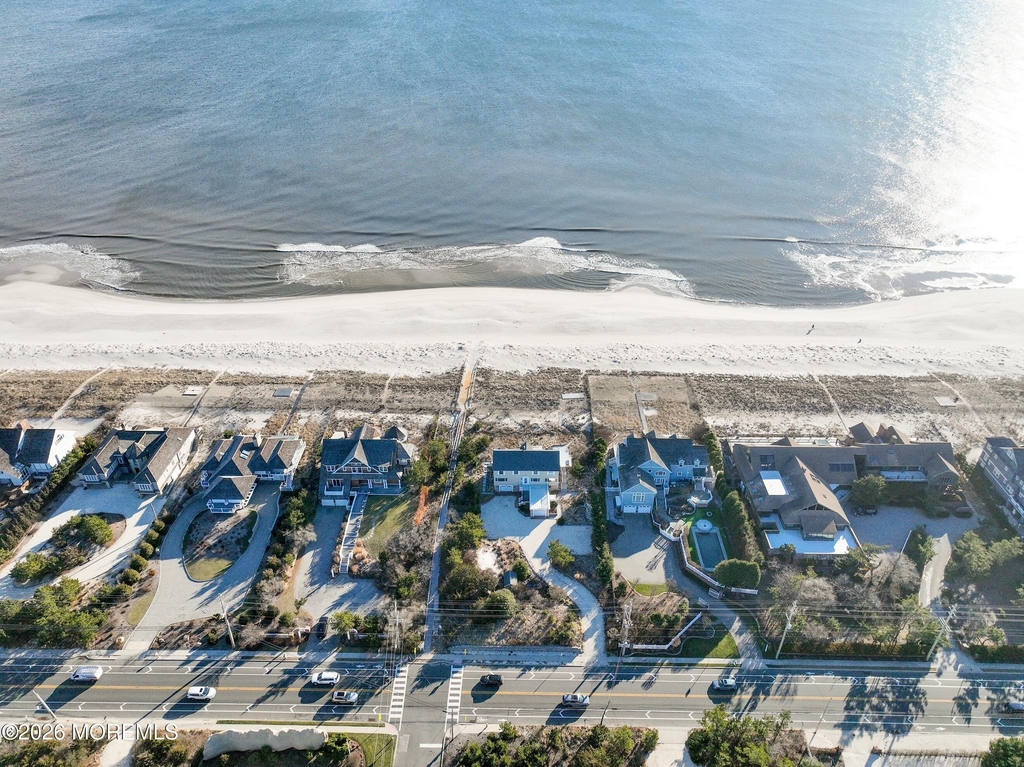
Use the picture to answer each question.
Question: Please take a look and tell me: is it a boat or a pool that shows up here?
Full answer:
I can see a pool in this picture.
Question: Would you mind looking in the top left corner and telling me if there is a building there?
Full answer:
No, no building can be made out in the top left corner.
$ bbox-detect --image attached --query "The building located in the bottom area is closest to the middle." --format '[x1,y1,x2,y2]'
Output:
[493,439,572,515]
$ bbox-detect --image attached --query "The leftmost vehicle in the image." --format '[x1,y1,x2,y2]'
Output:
[70,665,104,683]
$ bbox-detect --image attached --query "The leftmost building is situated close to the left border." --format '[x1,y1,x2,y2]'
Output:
[0,414,82,501]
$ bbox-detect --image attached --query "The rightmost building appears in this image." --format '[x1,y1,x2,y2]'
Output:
[972,436,1024,531]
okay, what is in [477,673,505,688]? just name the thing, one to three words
car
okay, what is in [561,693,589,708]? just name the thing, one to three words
car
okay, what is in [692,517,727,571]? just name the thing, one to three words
swimming pool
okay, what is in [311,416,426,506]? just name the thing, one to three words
house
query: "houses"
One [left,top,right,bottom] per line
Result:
[493,439,572,515]
[311,416,426,506]
[725,414,970,561]
[604,426,721,512]
[200,428,309,515]
[0,414,82,501]
[972,436,1024,531]
[78,427,193,505]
